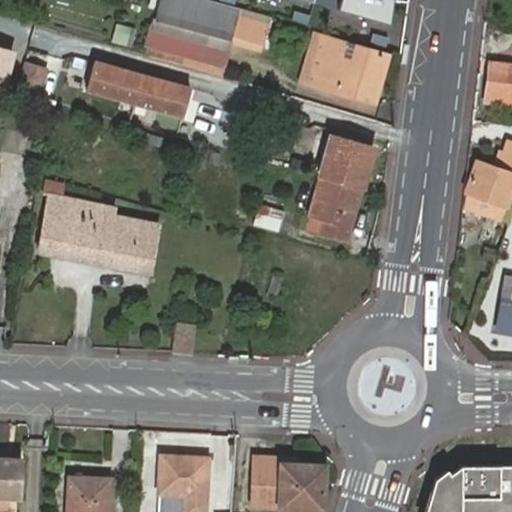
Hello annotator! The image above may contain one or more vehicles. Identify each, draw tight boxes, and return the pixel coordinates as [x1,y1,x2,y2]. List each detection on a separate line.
[100,276,123,286]
[420,405,434,429]
[46,72,56,94]
[194,118,216,132]
[199,104,224,118]
[148,0,158,14]
[390,470,402,492]
[354,212,368,238]
[423,280,439,372]
[429,30,442,52]
[258,406,279,416]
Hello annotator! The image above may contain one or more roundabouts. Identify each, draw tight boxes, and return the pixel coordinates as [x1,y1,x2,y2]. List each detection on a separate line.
[306,284,476,486]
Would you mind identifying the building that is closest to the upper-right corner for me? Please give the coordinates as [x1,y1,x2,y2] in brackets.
[482,61,512,108]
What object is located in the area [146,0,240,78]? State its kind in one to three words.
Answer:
building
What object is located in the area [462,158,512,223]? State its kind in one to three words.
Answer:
house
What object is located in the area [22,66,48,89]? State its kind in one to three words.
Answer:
building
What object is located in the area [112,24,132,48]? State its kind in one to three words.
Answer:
shed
